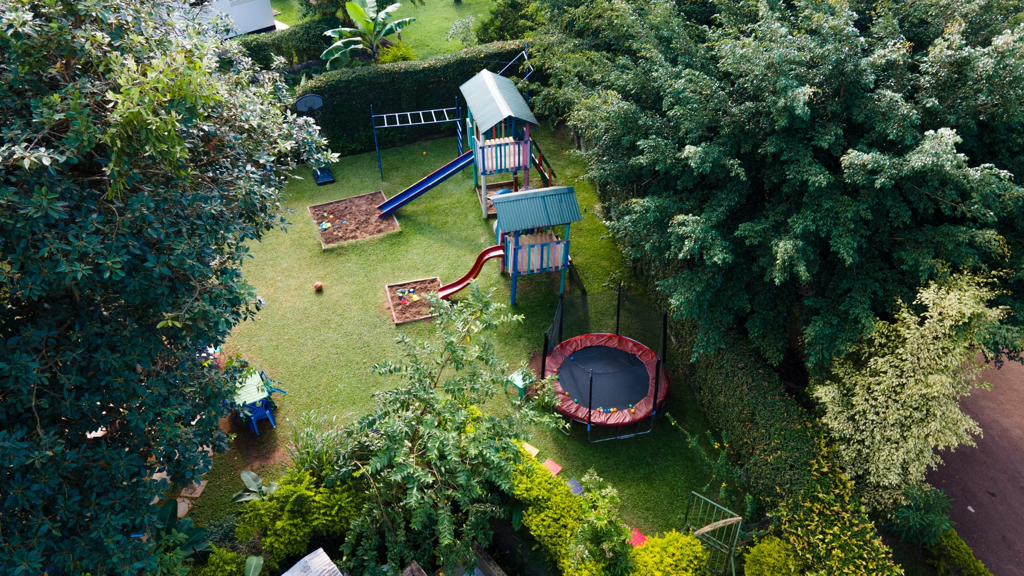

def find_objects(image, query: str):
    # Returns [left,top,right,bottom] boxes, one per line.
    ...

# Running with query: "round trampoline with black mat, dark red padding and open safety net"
[541,281,677,445]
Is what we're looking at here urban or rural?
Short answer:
rural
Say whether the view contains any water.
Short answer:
No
